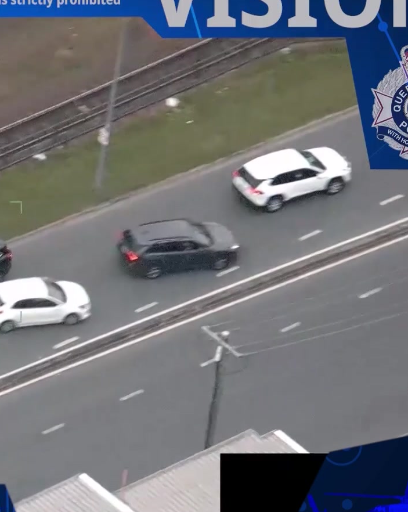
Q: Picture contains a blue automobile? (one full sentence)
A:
No, no blue automobile is visible in the scene.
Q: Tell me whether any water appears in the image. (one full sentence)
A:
No, no water is visible.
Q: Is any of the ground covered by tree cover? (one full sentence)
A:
No, the picture contains no tree cover.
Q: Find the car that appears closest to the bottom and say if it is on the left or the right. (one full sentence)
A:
The car that appears closest to the bottom is on the left side of the image.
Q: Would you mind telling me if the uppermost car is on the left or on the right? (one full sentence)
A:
The uppermost car appears in the right half of the scene.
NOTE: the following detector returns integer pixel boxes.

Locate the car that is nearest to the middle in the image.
[119,215,238,279]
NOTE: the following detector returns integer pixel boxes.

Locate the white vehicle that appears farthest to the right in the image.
[232,142,353,214]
